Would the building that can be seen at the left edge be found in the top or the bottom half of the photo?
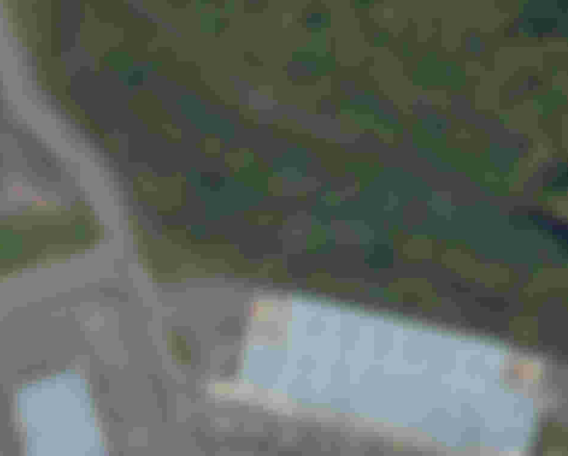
bottom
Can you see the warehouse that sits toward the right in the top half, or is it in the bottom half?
bottom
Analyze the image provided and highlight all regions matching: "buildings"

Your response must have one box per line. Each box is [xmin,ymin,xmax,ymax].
[237,293,545,456]
[16,370,106,456]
